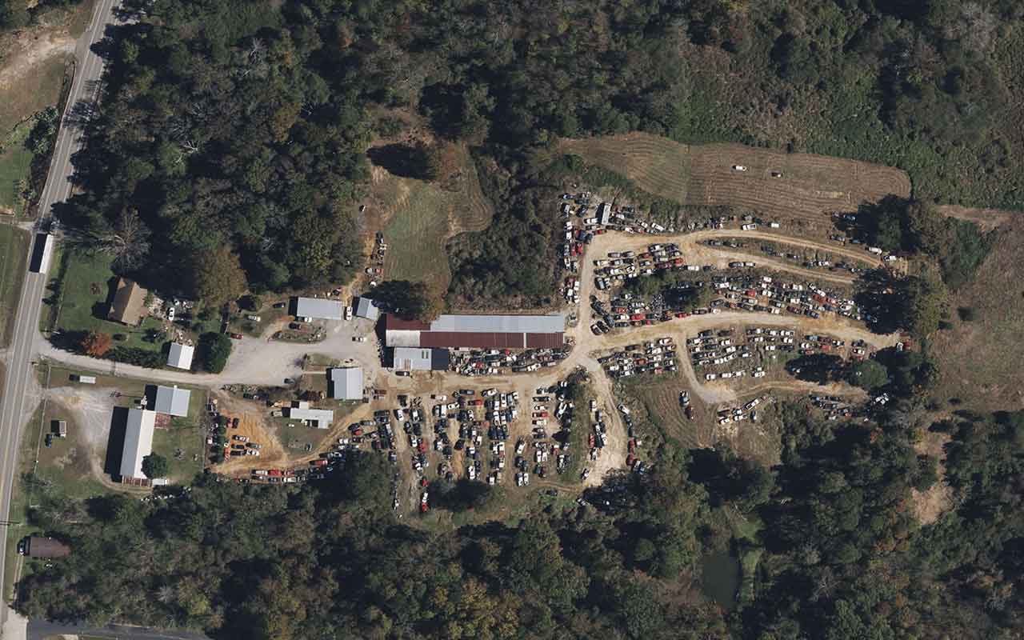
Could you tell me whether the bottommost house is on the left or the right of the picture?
left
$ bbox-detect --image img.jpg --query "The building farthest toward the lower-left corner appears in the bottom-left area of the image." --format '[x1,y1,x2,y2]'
[30,537,71,557]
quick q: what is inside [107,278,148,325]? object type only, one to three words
house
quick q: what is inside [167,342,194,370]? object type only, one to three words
shed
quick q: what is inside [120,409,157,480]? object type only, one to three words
barn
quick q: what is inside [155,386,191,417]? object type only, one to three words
building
